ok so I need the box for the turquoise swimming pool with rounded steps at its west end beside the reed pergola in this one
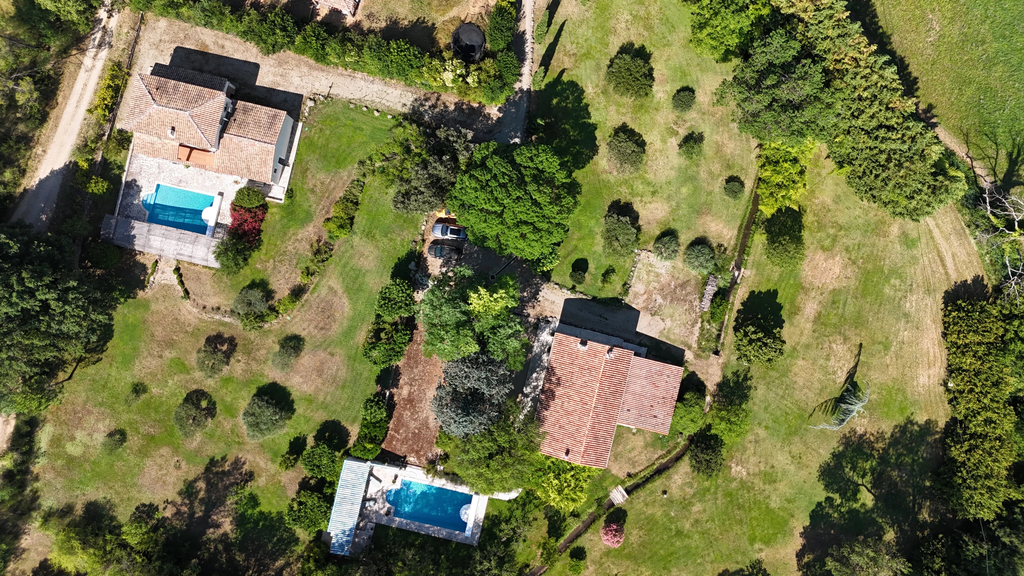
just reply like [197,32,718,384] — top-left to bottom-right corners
[138,181,222,237]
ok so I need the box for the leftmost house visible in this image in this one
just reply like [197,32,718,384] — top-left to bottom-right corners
[125,62,292,184]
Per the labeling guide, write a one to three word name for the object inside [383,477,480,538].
swimming pool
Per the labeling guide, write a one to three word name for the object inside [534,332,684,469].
house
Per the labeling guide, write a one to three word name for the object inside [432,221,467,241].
car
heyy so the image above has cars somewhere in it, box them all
[440,205,461,220]
[427,243,464,262]
[432,221,467,241]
